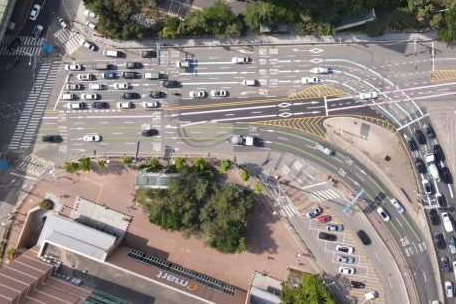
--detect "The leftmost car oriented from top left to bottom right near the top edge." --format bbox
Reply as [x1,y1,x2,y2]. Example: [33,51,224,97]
[56,15,72,32]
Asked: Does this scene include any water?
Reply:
No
